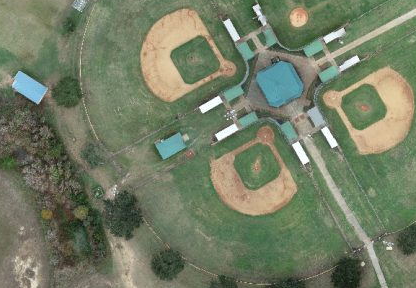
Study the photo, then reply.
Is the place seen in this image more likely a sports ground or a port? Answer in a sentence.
It's a sports ground.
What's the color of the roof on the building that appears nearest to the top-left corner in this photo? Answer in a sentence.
The roof of the building that appears nearest to the top-left corner is blue.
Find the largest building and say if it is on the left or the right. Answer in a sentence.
The largest building is on the right side of the image.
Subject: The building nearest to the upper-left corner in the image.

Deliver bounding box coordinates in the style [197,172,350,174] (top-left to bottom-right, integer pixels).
[10,71,48,104]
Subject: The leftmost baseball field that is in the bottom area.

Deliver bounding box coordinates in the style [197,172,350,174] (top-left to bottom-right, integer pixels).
[139,123,351,285]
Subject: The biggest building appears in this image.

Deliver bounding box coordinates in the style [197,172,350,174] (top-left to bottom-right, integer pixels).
[256,61,303,107]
